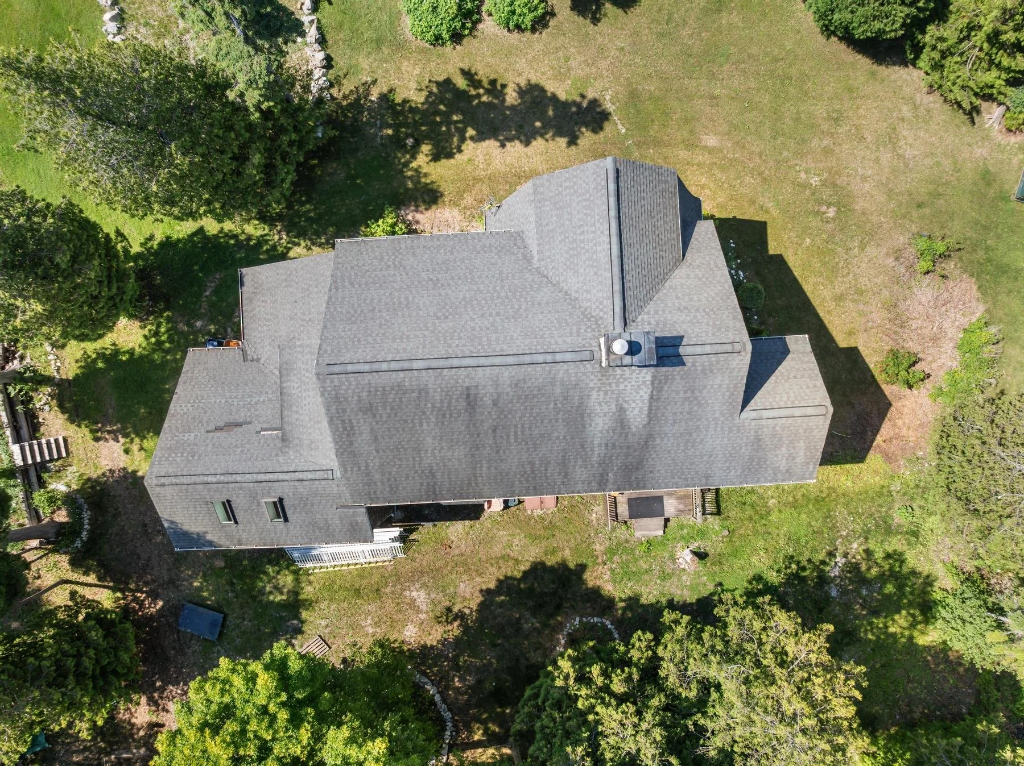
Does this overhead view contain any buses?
No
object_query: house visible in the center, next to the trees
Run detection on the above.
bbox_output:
[145,155,833,551]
